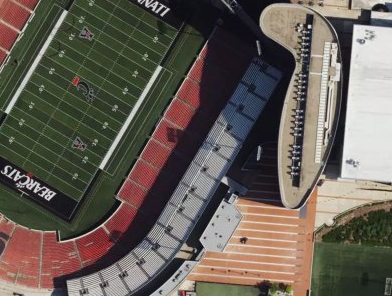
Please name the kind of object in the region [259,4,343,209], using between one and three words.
building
